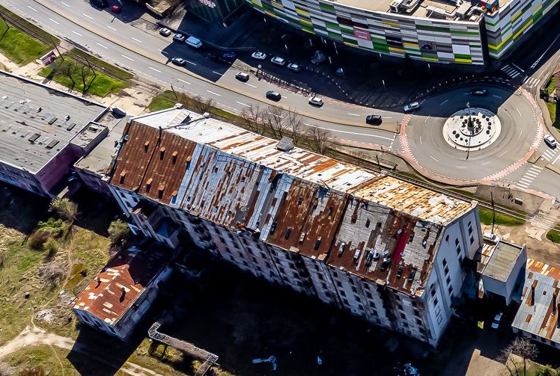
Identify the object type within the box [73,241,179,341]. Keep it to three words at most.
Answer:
building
